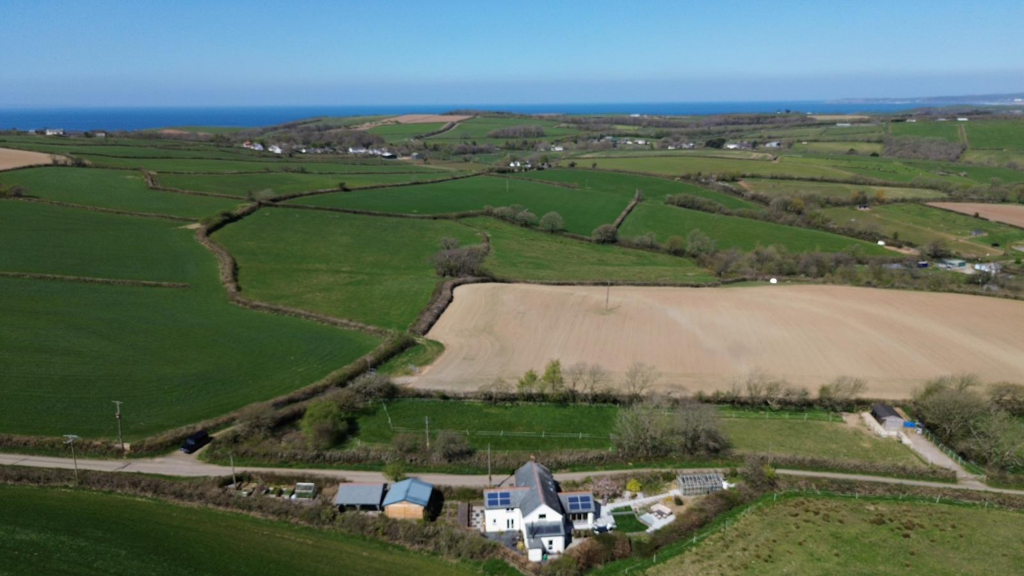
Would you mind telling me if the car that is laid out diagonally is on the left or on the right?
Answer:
left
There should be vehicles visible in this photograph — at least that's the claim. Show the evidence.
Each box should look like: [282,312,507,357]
[180,431,210,452]
[989,241,1001,246]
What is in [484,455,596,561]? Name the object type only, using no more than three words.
house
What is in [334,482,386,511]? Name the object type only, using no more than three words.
shed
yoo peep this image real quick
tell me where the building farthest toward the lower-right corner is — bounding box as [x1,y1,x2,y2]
[865,402,906,429]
